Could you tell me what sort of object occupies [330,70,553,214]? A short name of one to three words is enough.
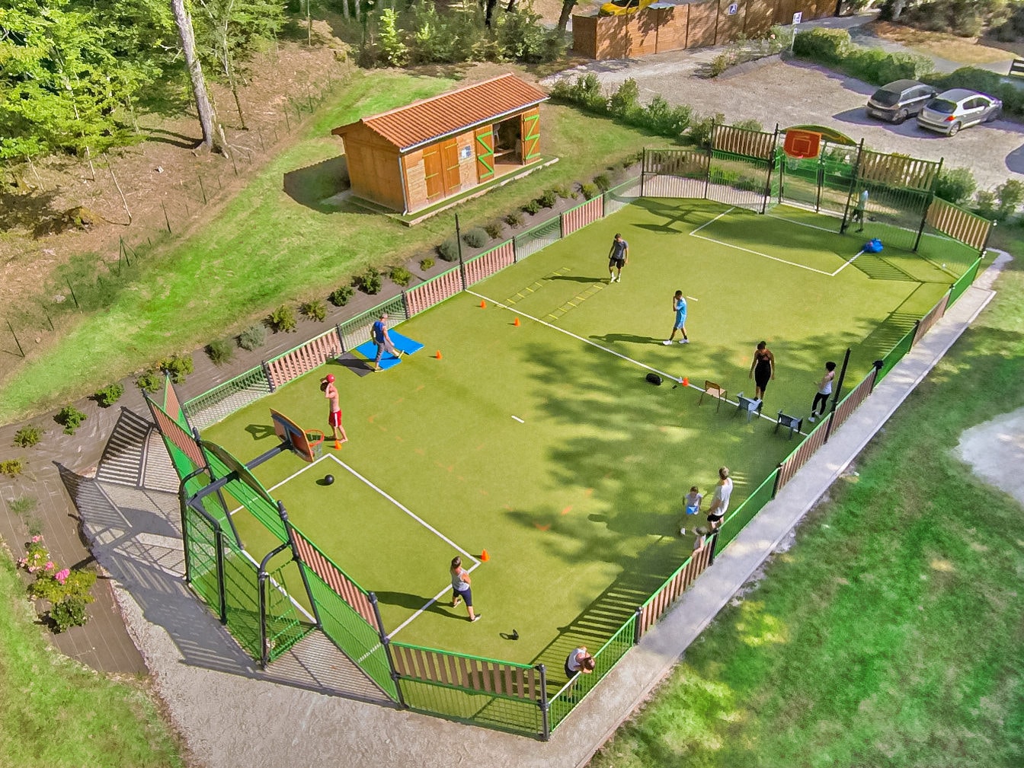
shed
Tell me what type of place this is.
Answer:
sports ground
